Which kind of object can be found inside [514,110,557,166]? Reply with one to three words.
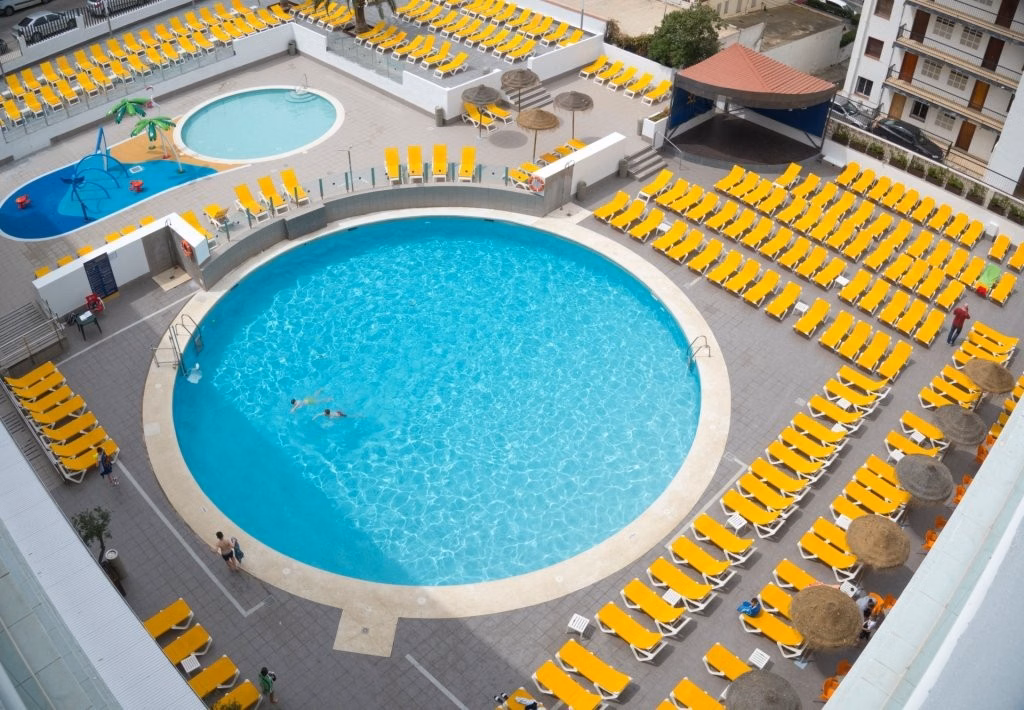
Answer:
umbrella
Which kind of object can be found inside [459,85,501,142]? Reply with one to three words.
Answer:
umbrella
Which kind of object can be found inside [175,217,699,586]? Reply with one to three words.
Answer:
swimming pool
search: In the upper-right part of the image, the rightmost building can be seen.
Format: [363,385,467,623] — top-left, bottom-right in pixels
[840,0,1024,191]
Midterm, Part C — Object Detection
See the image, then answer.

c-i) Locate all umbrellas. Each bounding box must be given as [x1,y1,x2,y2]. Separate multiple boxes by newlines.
[890,459,956,531]
[500,70,540,105]
[514,110,557,166]
[848,527,916,600]
[555,90,597,139]
[925,406,986,454]
[723,674,803,710]
[958,363,1017,414]
[459,85,501,142]
[786,585,864,666]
